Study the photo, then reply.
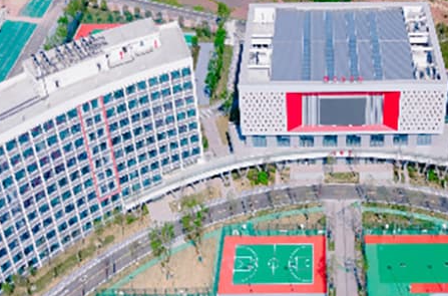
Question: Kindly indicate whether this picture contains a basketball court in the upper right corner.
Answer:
No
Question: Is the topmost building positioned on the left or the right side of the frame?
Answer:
right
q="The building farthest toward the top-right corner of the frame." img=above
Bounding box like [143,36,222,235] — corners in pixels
[238,3,448,144]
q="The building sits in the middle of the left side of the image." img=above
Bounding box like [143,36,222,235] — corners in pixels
[0,19,208,286]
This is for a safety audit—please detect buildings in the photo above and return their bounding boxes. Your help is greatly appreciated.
[0,19,208,286]
[238,3,448,144]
